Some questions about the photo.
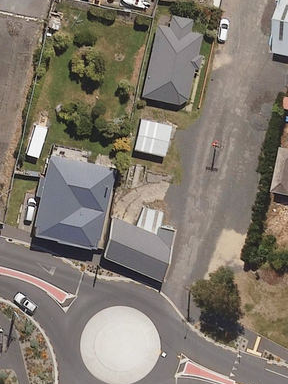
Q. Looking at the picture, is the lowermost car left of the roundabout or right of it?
on its left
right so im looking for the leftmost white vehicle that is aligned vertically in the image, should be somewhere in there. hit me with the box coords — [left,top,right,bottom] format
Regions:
[24,198,36,225]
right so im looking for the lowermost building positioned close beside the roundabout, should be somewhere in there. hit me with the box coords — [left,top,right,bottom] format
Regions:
[104,218,177,284]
